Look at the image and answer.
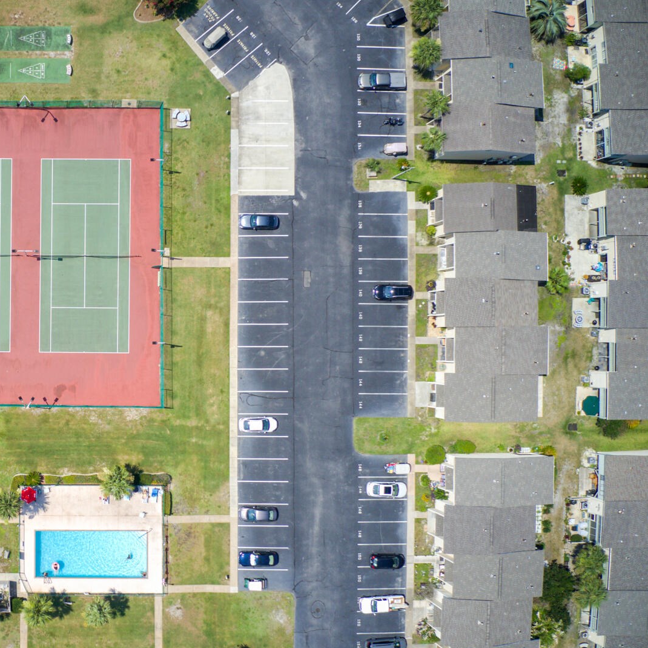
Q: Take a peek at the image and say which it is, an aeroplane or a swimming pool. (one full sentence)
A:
Looking from above, you can make out a swimming pool.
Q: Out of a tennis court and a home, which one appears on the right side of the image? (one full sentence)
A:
The feature located on the right side of the image is a home.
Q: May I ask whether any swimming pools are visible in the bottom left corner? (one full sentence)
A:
Yes, looking in the bottom left corner, one can make out a swimming pool.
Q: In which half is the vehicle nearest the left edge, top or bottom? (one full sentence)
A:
The vehicle nearest the left edge sits in the top half of the picture.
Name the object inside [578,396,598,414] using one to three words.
umbrella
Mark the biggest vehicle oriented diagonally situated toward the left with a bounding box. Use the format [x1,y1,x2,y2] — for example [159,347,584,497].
[200,23,233,53]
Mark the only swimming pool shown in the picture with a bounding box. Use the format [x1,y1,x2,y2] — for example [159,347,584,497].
[20,485,166,594]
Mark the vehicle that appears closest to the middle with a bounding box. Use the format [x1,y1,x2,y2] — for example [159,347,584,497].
[371,283,415,302]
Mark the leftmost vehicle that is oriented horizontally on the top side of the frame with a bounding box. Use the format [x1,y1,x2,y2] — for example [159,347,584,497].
[238,212,280,232]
